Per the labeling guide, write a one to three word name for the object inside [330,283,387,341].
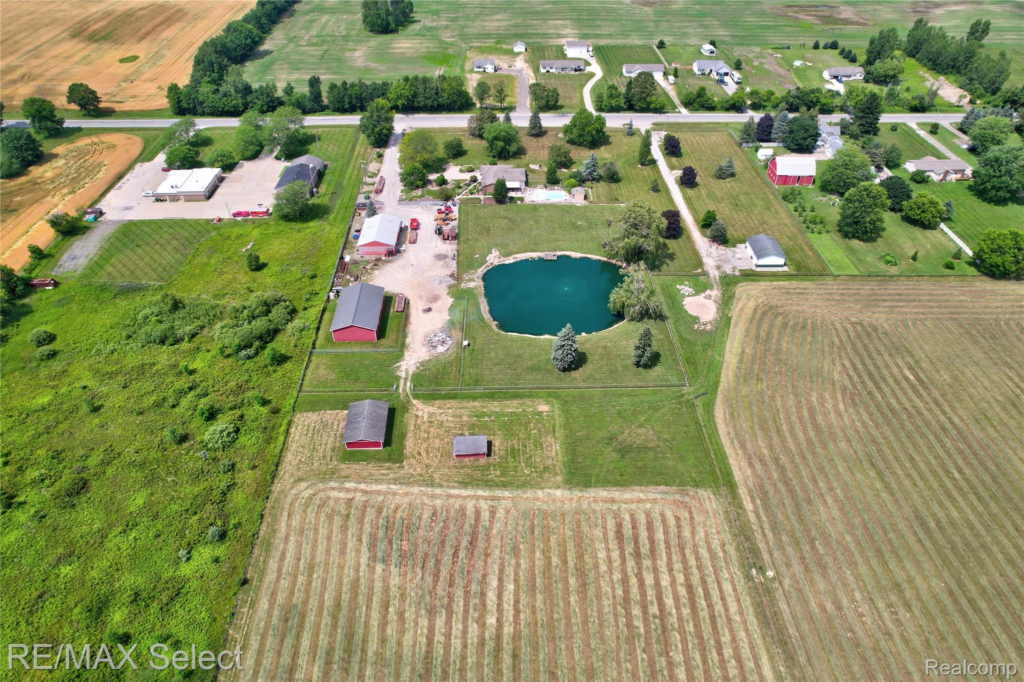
barn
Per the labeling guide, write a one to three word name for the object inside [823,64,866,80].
house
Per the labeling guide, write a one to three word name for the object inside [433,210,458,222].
vehicle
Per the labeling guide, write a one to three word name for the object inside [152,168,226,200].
building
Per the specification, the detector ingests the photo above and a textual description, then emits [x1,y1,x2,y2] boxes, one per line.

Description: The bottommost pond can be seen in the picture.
[482,254,631,337]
